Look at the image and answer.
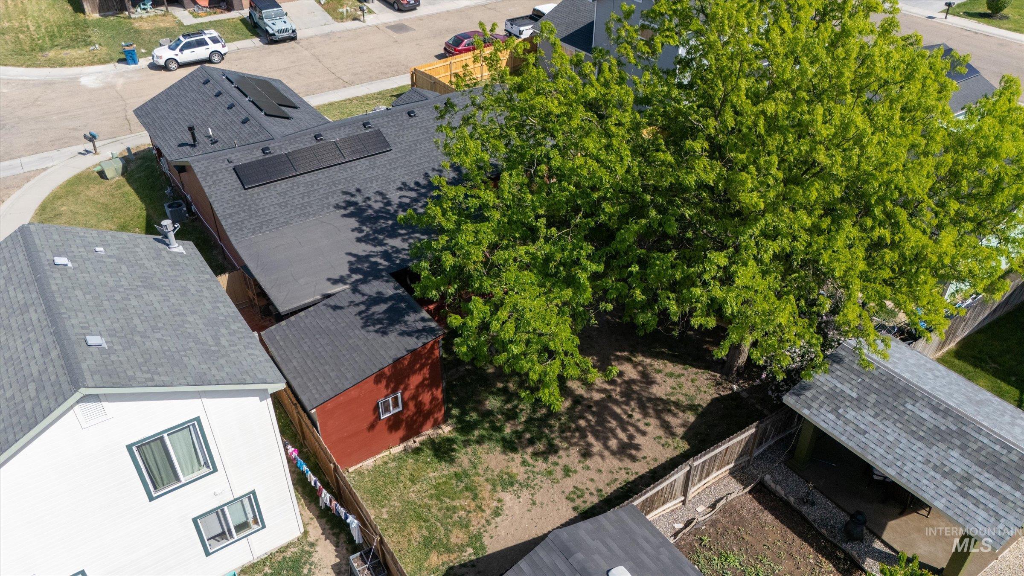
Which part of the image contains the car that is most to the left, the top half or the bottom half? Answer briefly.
top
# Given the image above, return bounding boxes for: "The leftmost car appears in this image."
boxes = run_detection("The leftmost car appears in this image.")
[149,29,230,71]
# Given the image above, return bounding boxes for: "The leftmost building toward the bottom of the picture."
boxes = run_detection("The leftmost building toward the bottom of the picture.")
[0,209,302,576]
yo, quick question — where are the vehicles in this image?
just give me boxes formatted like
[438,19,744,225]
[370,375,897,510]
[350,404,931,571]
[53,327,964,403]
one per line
[379,0,422,10]
[149,29,230,71]
[249,1,293,40]
[509,1,562,38]
[436,25,505,56]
